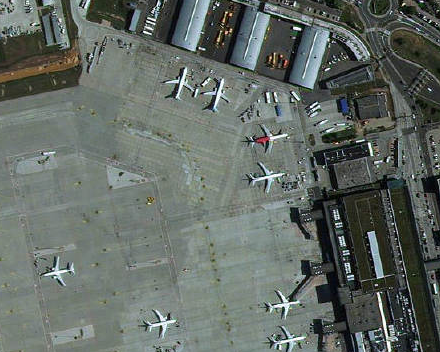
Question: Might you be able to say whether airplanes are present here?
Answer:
Yes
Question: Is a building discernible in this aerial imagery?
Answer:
Yes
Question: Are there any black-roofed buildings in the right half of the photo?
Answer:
Yes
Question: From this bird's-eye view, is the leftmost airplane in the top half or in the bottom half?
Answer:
bottom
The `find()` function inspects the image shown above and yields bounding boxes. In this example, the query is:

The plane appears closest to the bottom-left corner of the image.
[40,256,74,287]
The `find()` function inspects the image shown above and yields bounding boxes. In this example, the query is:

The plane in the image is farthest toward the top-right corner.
[249,121,288,156]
